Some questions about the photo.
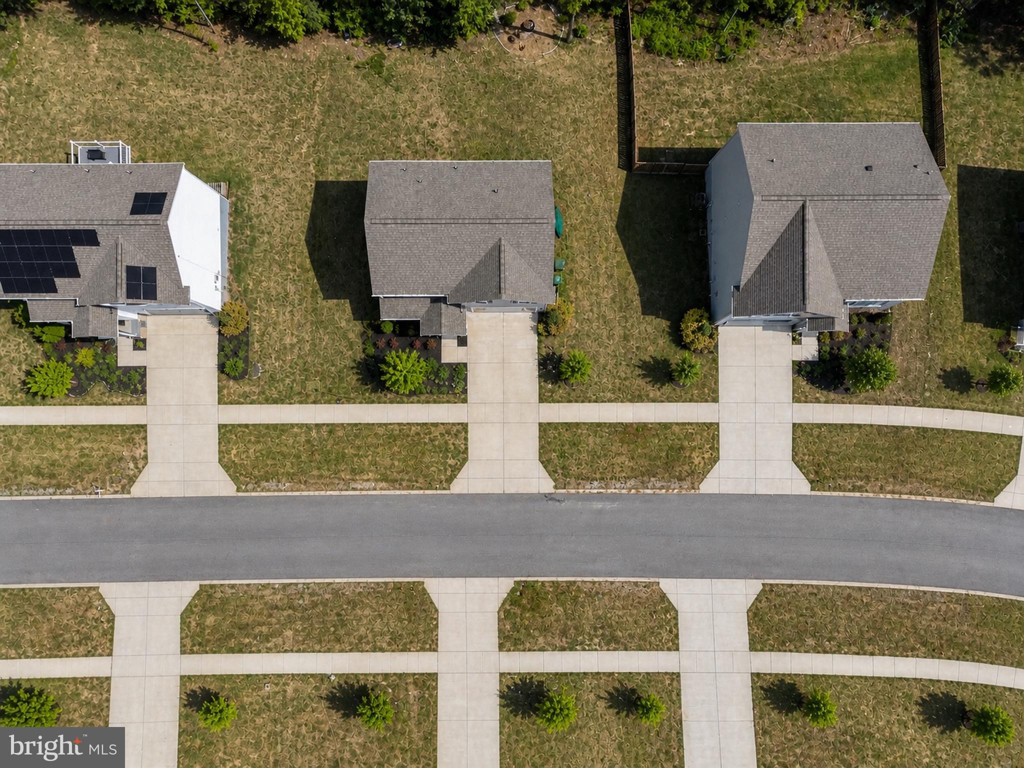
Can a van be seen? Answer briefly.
No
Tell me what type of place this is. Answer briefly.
residential area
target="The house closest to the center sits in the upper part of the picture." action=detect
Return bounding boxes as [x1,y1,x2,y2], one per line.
[363,159,557,335]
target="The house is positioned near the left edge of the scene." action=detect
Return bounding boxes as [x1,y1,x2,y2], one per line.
[0,162,226,338]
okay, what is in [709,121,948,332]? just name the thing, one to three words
house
